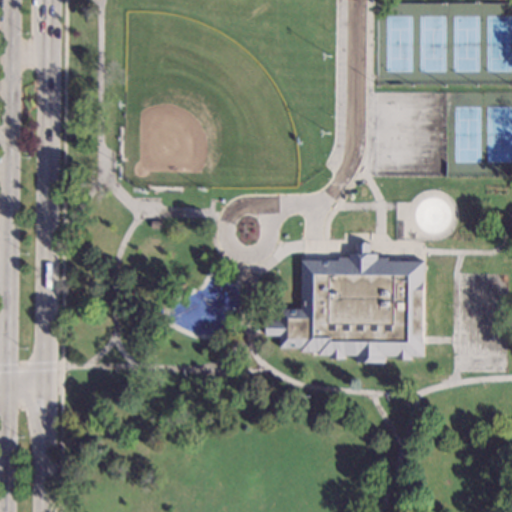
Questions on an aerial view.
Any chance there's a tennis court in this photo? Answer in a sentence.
Yes, the frame does contain a tennis court.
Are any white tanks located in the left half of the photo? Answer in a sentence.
No, looking in the left half of the photo, there is no white tank.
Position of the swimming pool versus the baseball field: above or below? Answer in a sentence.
You can see the swimming pool below the baseball field in the frame.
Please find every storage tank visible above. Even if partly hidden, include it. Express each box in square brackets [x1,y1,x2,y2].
[413,190,459,241]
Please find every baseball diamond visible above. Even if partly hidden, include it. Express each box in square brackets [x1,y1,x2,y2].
[126,11,299,188]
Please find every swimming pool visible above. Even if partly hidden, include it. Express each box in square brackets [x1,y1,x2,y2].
[162,272,242,340]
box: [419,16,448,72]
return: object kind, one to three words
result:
tennis court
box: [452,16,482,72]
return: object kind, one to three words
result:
tennis court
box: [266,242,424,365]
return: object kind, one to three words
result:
building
